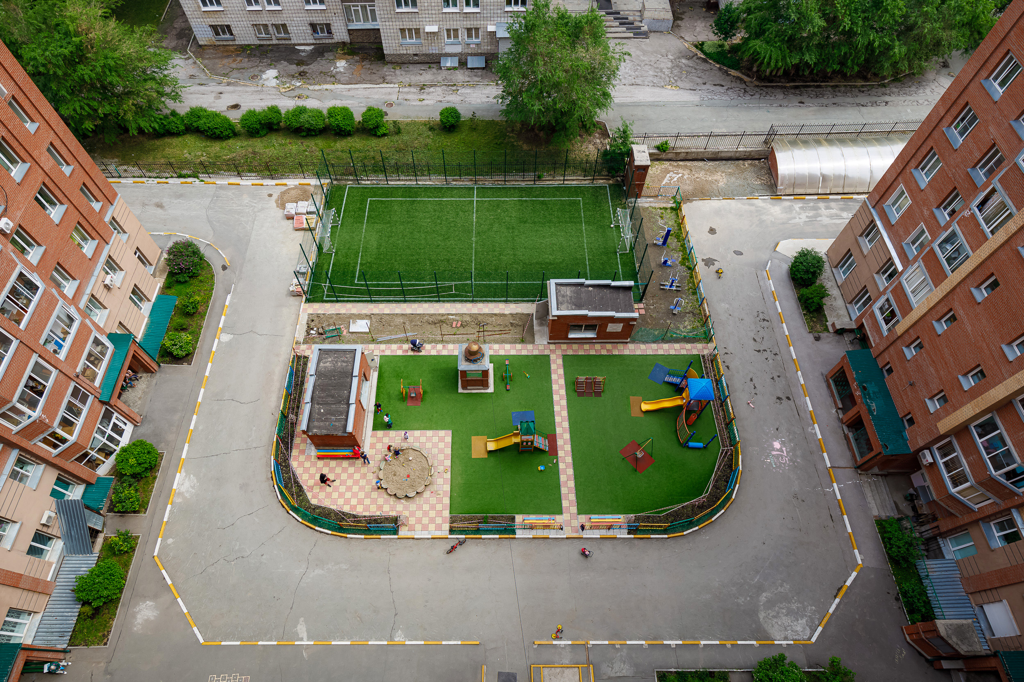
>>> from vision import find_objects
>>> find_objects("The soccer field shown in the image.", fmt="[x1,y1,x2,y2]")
[307,183,652,301]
